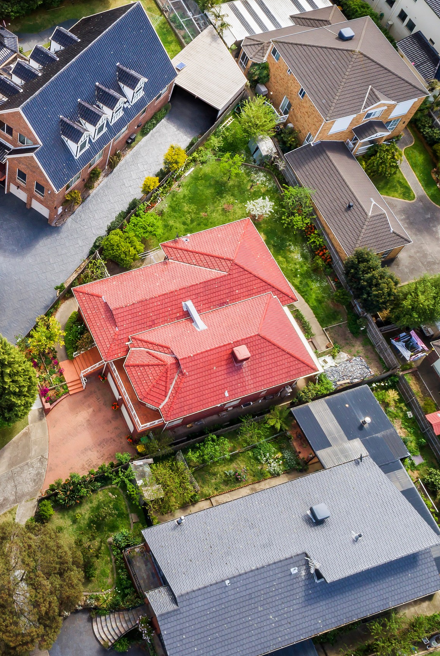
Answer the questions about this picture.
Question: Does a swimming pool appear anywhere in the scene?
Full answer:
No, there is no swimming pool in the image.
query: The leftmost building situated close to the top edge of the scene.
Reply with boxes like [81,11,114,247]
[0,3,180,213]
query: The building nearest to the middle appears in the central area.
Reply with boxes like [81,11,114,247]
[59,216,323,438]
